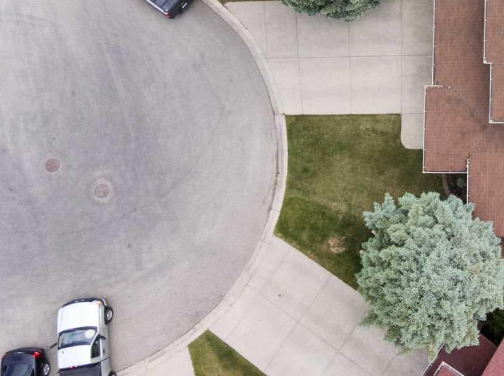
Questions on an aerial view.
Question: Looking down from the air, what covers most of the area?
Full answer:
Most of the picture is covered by paved ground.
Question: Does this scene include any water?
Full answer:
No, the picture contains no water.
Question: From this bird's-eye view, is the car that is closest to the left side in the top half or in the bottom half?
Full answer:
The car that is closest to the left side is in the bottom half of the image.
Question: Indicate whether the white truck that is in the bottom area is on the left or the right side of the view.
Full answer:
The white truck that is in the bottom area sits on the left side.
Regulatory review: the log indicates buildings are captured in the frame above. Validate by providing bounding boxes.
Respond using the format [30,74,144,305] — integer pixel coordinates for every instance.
[421,312,504,376]
[422,0,504,237]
